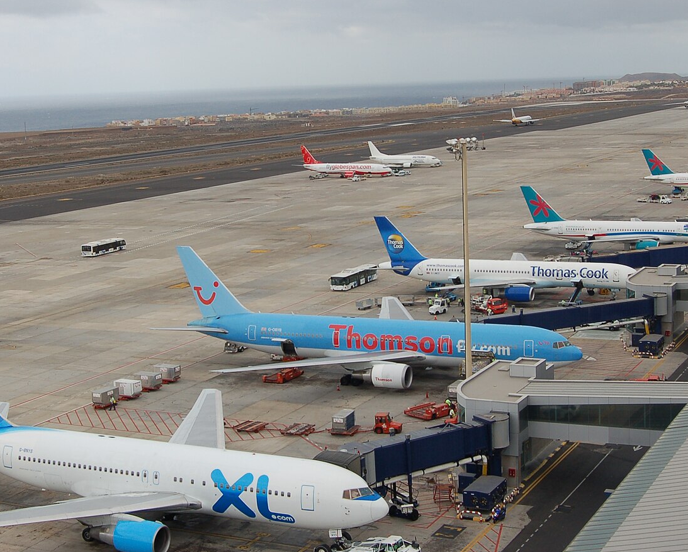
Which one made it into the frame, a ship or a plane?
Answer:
plane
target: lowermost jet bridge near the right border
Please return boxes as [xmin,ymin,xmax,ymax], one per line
[452,291,671,335]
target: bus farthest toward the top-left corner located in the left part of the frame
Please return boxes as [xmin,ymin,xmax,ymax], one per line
[84,235,133,255]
